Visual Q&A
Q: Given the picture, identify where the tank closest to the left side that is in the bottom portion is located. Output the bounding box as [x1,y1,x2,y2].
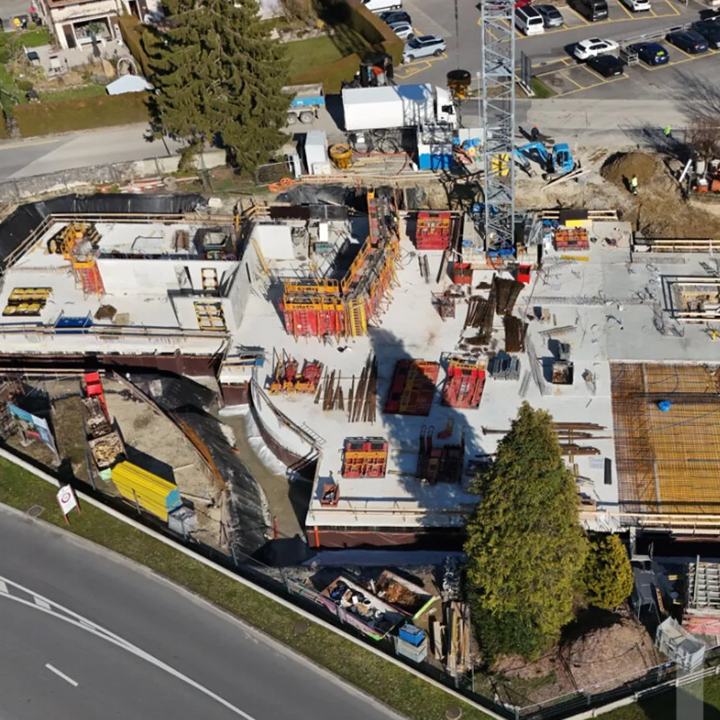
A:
[171,504,202,535]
